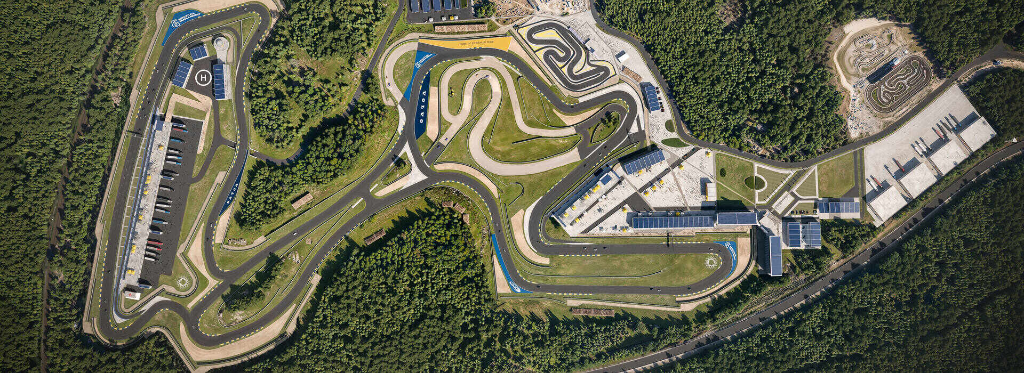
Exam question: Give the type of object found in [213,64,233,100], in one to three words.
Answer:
shed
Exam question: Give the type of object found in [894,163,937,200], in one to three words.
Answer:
building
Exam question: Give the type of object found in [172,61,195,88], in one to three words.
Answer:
shed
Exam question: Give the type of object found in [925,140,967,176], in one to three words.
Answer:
building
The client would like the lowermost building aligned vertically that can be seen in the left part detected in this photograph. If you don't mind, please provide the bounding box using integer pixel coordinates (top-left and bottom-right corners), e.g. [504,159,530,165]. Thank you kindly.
[125,121,173,286]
